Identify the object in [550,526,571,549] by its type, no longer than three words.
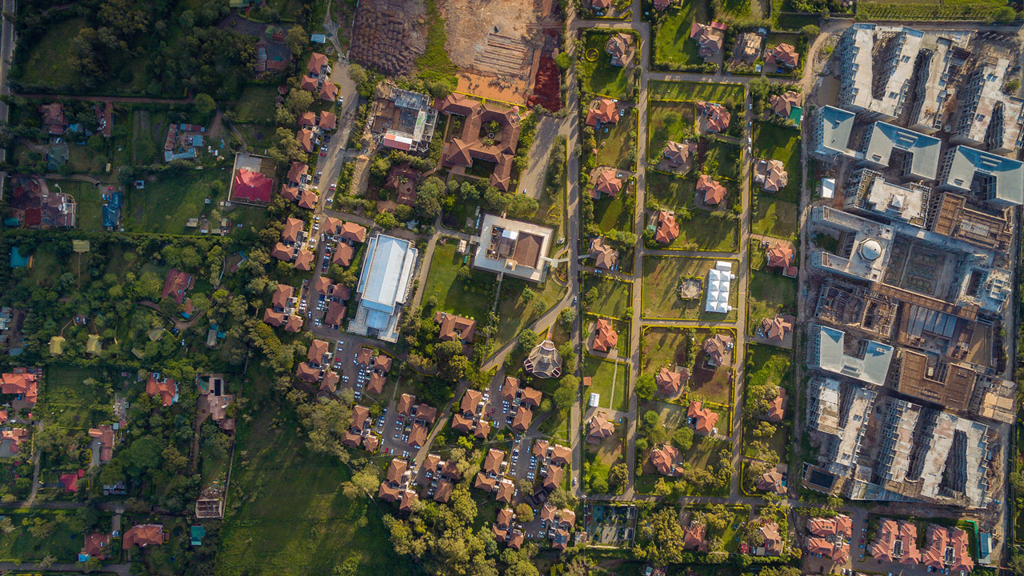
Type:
house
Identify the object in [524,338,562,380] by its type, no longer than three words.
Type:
building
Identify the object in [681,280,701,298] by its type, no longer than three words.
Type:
gazebo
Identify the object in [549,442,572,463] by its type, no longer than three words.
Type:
house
